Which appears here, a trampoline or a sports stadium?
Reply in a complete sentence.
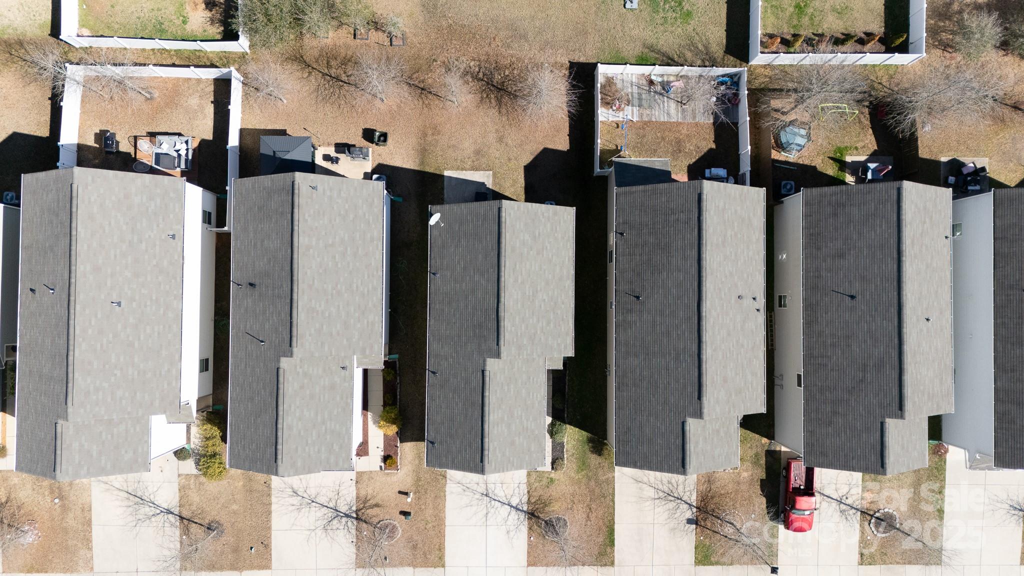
The one in the frame is a trampoline.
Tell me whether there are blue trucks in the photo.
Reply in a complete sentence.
No, no blue truck is visible in the view.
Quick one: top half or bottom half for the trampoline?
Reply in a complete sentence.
Seen from above, the trampoline lies in the top half of the view.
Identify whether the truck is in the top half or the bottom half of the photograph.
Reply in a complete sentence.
It is in the bottom half that the truck appears.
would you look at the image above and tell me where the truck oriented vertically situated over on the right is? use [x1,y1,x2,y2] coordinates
[782,453,820,532]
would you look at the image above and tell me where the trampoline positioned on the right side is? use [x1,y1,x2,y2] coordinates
[772,115,817,160]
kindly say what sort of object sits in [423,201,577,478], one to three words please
house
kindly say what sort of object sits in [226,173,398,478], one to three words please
house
